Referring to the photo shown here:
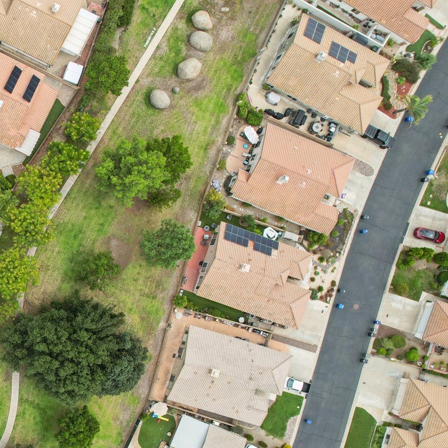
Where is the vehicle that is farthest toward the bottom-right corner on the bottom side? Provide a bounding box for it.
[285,377,314,395]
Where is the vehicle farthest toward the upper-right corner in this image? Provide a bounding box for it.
[364,124,397,148]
